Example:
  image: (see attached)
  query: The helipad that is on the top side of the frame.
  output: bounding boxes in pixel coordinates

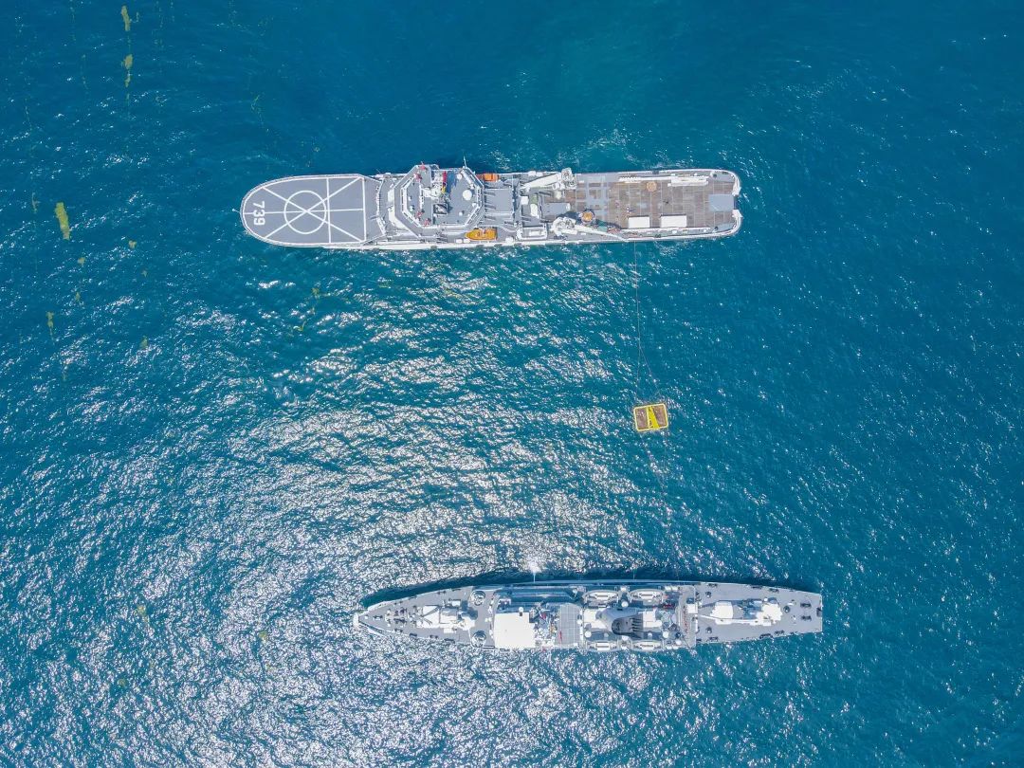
[232,174,368,248]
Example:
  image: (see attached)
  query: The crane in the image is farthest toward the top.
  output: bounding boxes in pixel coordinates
[520,167,578,192]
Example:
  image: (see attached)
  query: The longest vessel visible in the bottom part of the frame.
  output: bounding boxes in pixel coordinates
[353,577,823,651]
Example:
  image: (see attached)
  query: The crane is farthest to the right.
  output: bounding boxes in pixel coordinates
[550,215,630,243]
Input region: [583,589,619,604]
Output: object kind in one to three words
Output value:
boat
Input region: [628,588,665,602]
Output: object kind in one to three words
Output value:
boat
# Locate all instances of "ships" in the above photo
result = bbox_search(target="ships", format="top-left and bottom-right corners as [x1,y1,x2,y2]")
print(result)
[353,577,823,651]
[322,161,744,249]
